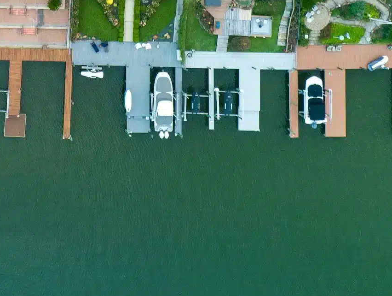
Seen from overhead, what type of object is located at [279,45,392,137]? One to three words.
pier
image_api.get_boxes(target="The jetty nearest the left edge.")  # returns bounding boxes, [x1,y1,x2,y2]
[0,47,74,141]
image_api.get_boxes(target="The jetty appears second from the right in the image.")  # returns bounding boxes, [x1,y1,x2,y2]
[185,52,295,131]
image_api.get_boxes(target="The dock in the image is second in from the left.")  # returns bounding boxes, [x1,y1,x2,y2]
[72,43,188,138]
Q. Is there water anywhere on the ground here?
Yes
